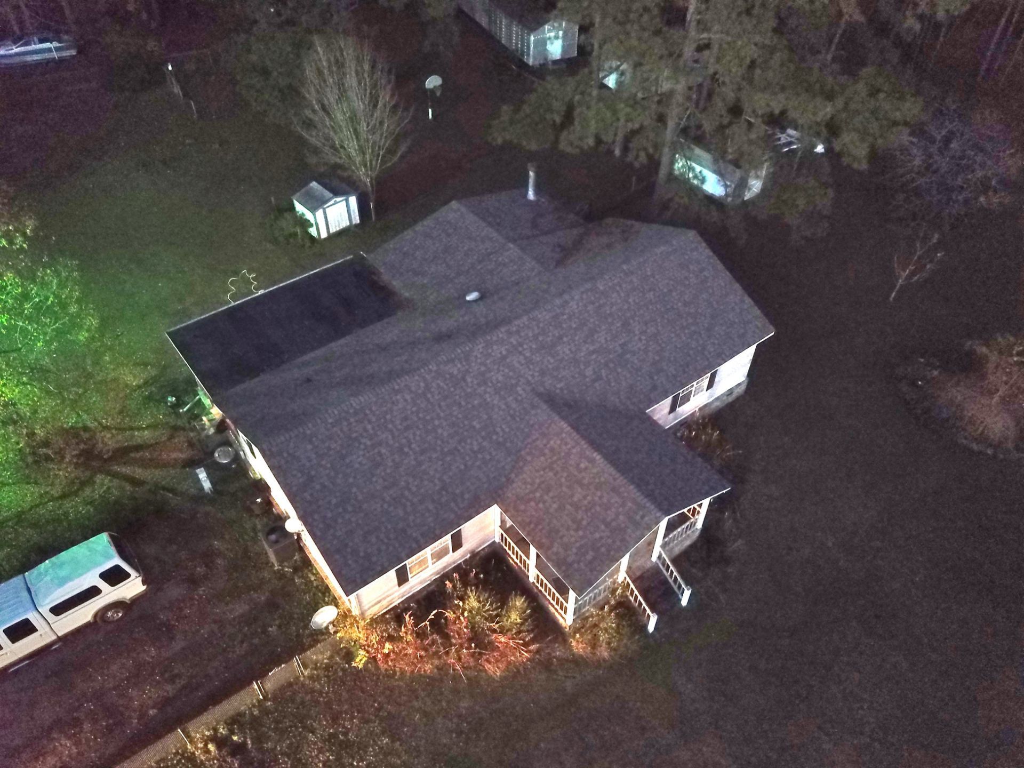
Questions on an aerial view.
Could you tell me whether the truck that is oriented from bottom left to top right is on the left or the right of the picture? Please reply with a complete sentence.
The truck that is oriented from bottom left to top right is on the left side of the image.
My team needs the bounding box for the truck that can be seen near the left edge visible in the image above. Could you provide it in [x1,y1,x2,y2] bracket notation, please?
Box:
[0,534,150,675]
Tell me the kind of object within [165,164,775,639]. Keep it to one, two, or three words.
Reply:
house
